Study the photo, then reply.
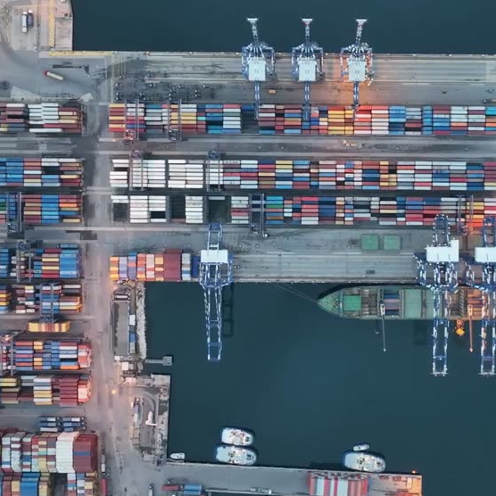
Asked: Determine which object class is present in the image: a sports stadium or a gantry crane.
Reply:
gantry crane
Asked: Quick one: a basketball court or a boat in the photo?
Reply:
boat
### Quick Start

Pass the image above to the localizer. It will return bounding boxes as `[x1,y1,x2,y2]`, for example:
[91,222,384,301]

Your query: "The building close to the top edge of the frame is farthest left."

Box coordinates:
[52,17,71,50]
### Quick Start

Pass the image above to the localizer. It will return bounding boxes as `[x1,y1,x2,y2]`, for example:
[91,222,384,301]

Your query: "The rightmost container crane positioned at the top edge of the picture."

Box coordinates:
[334,14,373,118]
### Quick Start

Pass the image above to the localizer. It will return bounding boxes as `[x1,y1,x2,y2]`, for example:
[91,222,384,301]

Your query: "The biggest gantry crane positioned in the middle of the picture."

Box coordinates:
[196,222,241,361]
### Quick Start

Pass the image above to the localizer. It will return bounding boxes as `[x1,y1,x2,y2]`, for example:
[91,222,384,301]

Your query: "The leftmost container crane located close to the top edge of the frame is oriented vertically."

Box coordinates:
[241,14,280,118]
